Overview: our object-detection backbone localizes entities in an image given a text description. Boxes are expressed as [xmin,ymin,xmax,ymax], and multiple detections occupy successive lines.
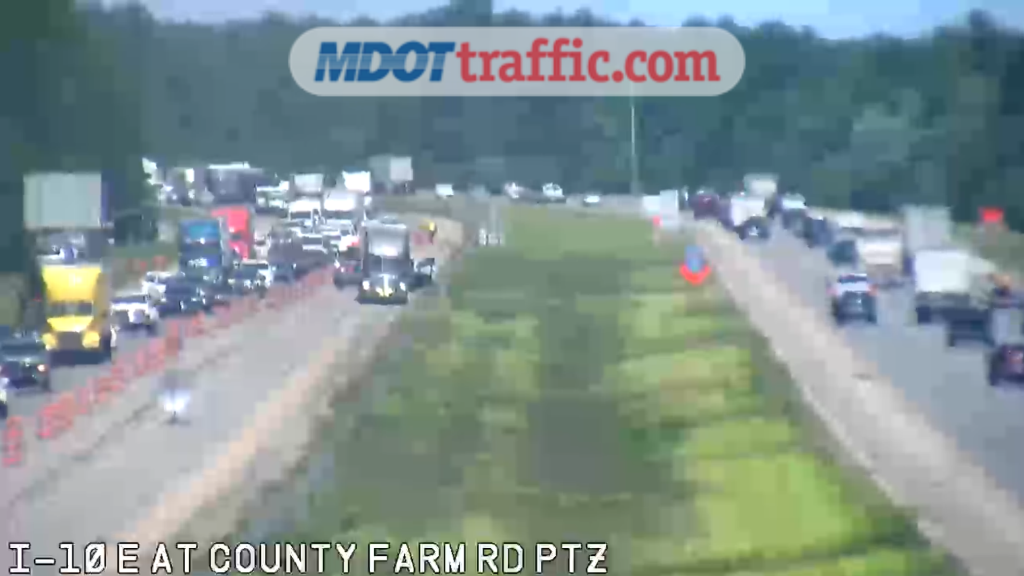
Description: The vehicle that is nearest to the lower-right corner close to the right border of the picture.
[981,340,1024,385]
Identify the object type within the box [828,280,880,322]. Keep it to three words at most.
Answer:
car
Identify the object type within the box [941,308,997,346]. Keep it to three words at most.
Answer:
car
